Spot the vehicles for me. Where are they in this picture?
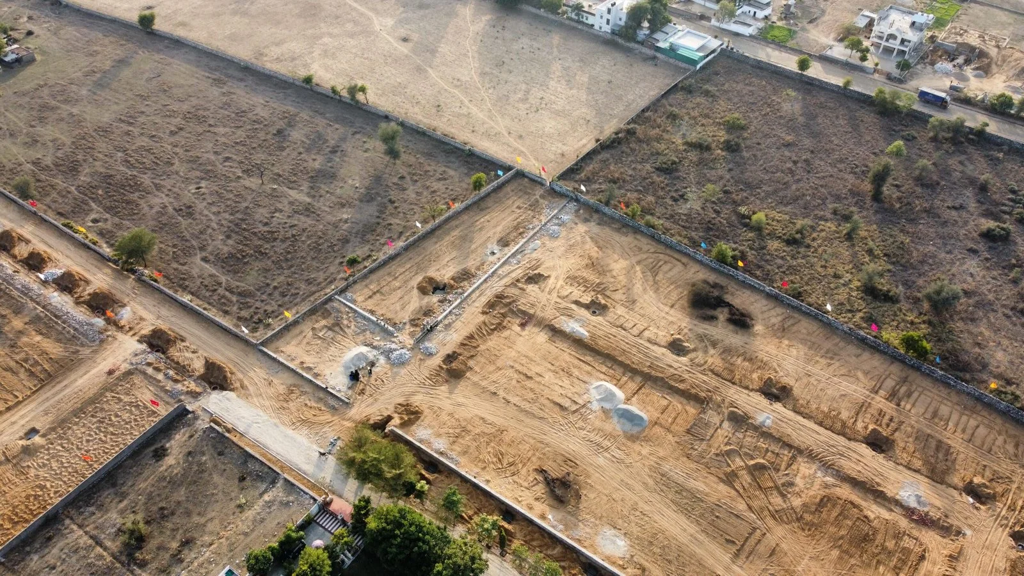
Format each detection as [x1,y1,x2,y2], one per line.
[951,82,970,94]
[317,447,330,459]
[918,86,955,115]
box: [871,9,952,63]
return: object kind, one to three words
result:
house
